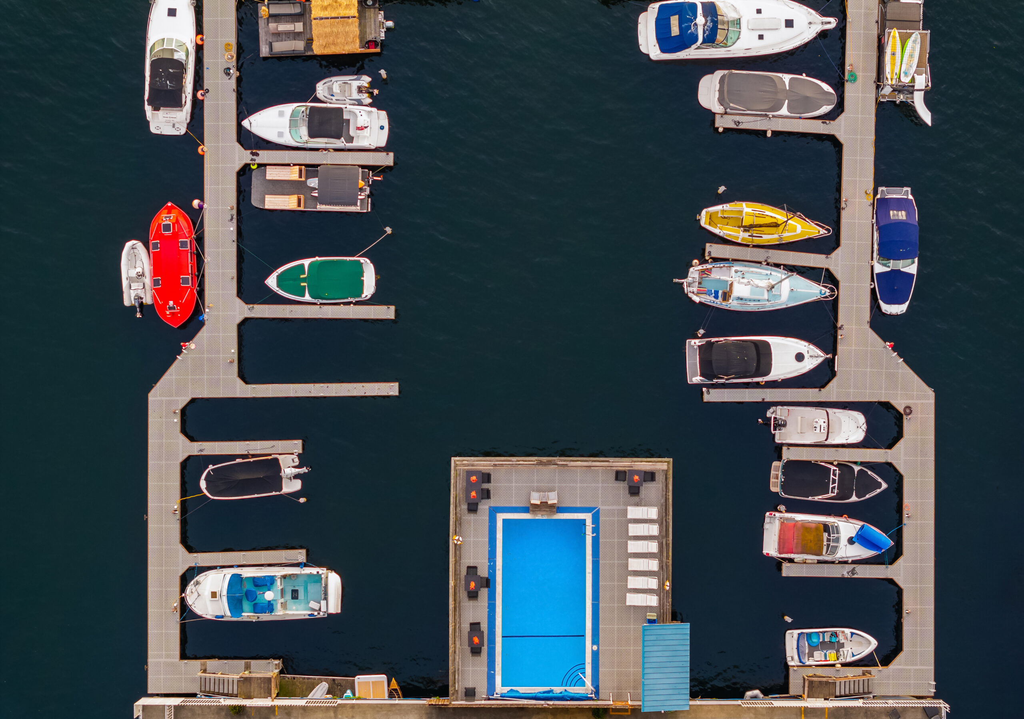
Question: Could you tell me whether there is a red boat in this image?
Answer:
Yes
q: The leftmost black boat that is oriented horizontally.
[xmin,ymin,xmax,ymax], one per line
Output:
[200,454,311,499]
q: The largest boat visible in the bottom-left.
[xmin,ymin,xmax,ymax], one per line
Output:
[184,565,328,620]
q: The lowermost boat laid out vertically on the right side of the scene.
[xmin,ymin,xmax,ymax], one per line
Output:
[871,187,919,315]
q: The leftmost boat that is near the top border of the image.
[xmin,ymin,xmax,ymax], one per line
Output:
[144,0,200,135]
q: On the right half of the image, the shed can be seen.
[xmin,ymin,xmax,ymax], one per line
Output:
[640,623,690,712]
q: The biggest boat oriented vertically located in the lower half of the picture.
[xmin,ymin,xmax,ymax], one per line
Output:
[325,571,342,613]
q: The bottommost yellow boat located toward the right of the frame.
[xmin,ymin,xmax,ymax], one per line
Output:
[693,197,832,245]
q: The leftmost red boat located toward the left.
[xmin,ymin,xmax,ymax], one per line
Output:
[149,201,199,328]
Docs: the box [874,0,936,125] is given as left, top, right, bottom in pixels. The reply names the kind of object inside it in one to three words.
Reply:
vessel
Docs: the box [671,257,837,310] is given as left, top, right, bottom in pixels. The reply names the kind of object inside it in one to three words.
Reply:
boat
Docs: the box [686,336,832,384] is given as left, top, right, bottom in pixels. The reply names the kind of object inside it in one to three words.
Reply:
boat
